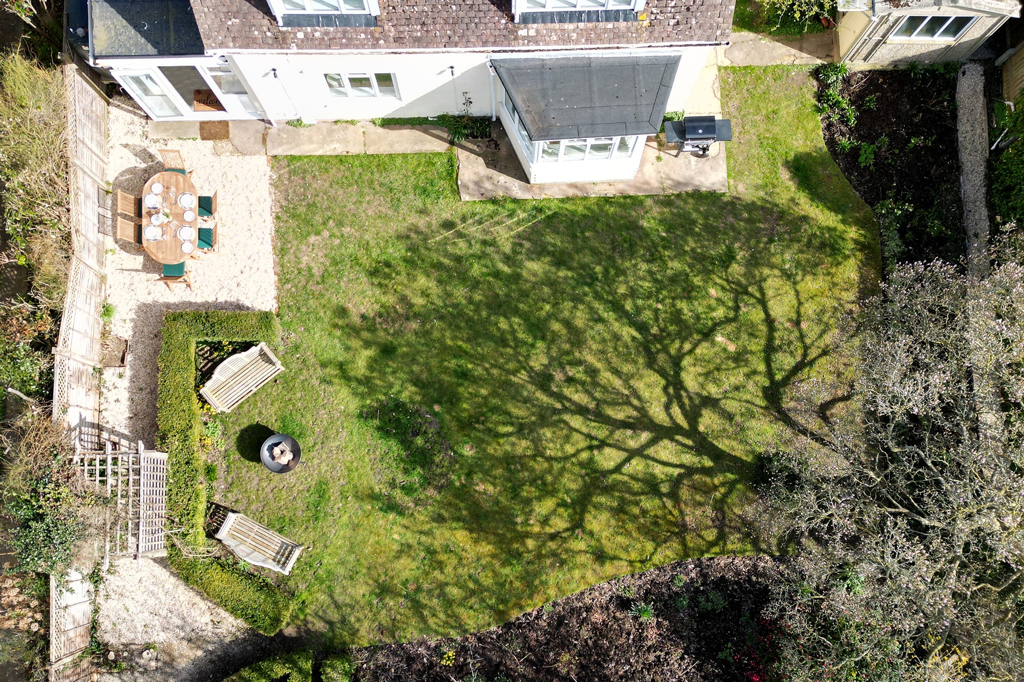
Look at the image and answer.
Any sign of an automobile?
No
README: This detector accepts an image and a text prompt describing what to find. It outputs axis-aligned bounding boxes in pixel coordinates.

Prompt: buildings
[831,0,1024,65]
[83,0,738,182]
